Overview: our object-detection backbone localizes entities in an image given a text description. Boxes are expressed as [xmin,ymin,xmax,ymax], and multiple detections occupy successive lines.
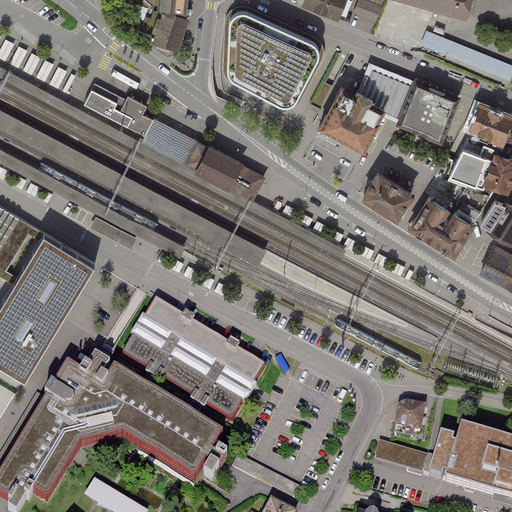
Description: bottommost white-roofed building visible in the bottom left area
[85,478,154,512]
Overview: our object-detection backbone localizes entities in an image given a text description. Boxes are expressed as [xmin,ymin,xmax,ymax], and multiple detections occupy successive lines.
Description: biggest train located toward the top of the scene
[40,166,158,230]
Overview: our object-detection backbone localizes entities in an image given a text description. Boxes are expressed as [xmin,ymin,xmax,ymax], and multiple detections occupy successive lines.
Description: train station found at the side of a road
[0,66,512,346]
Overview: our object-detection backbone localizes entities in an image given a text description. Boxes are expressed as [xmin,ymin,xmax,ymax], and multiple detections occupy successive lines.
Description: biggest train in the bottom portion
[335,320,420,367]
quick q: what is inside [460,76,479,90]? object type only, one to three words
vehicle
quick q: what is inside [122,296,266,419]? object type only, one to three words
building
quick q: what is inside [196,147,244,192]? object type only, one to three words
building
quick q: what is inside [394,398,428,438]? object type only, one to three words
house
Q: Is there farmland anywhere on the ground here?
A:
No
